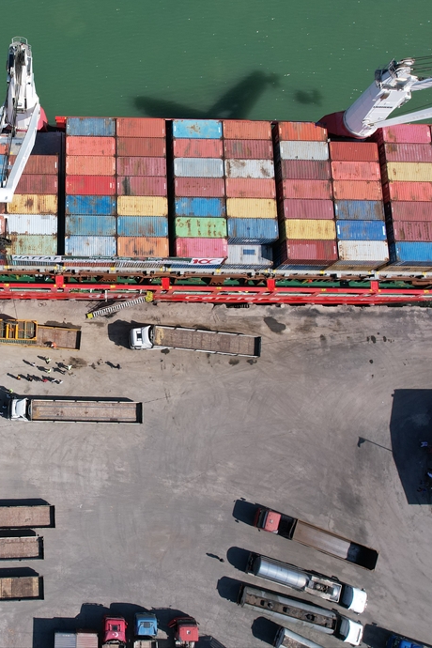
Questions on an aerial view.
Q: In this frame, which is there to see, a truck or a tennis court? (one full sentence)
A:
Visible in the photo is a truck.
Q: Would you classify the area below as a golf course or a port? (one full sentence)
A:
It's a port.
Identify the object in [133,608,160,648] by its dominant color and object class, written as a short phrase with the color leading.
blue truck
